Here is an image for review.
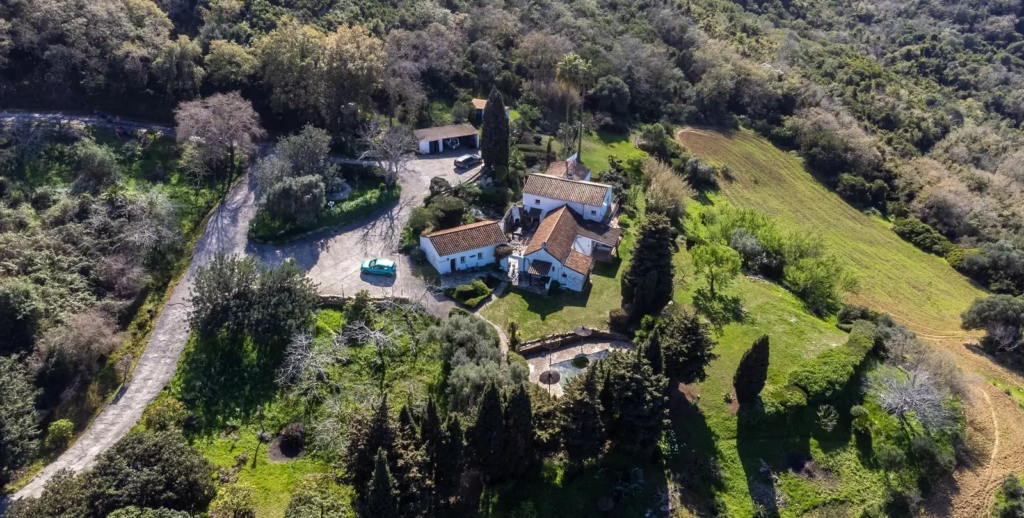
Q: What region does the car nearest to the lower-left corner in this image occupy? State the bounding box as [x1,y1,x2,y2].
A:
[360,256,398,275]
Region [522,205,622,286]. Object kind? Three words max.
house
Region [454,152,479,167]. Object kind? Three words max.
car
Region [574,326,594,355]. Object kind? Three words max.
umbrella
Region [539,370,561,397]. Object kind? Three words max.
umbrella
